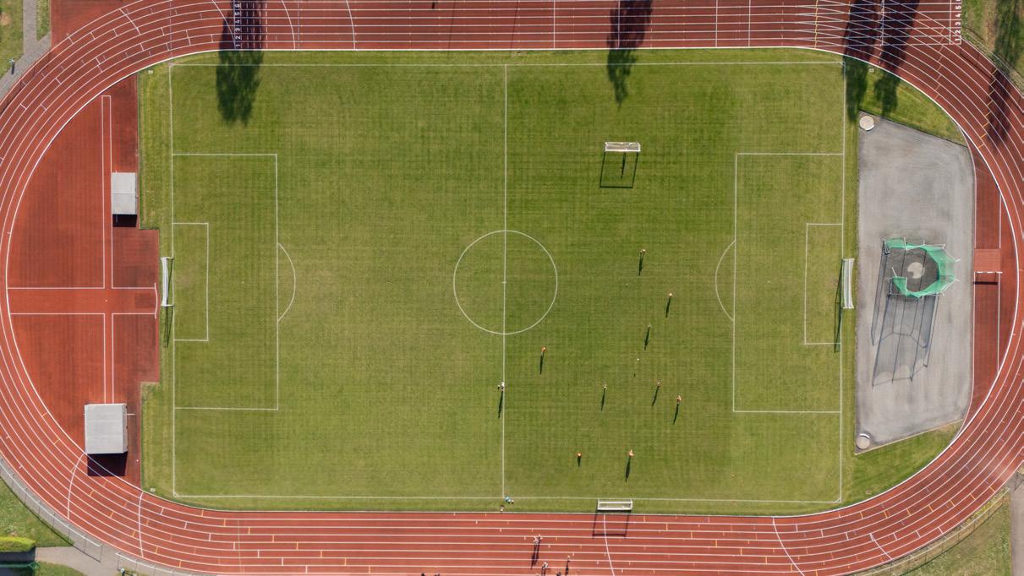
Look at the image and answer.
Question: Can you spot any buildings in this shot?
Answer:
No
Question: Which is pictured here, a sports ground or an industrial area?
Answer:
sports ground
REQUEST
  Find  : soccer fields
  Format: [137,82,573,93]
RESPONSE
[137,47,967,516]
